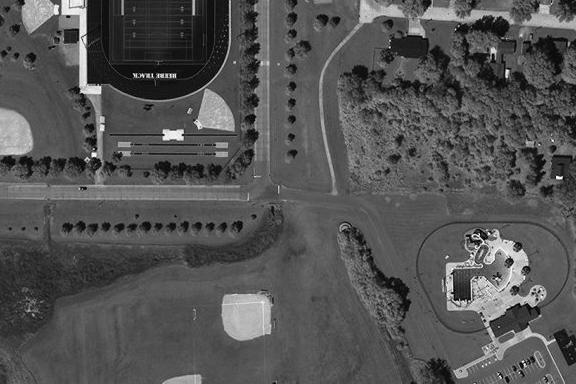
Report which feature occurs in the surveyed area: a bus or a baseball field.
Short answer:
baseball field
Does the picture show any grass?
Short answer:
Yes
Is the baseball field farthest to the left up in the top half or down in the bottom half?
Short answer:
top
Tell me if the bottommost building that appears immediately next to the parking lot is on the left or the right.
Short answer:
right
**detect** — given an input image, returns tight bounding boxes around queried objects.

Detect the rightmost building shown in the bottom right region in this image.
[553,327,576,366]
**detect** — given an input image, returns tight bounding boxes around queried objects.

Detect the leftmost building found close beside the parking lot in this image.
[490,302,542,338]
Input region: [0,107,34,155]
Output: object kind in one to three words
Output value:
baseball field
